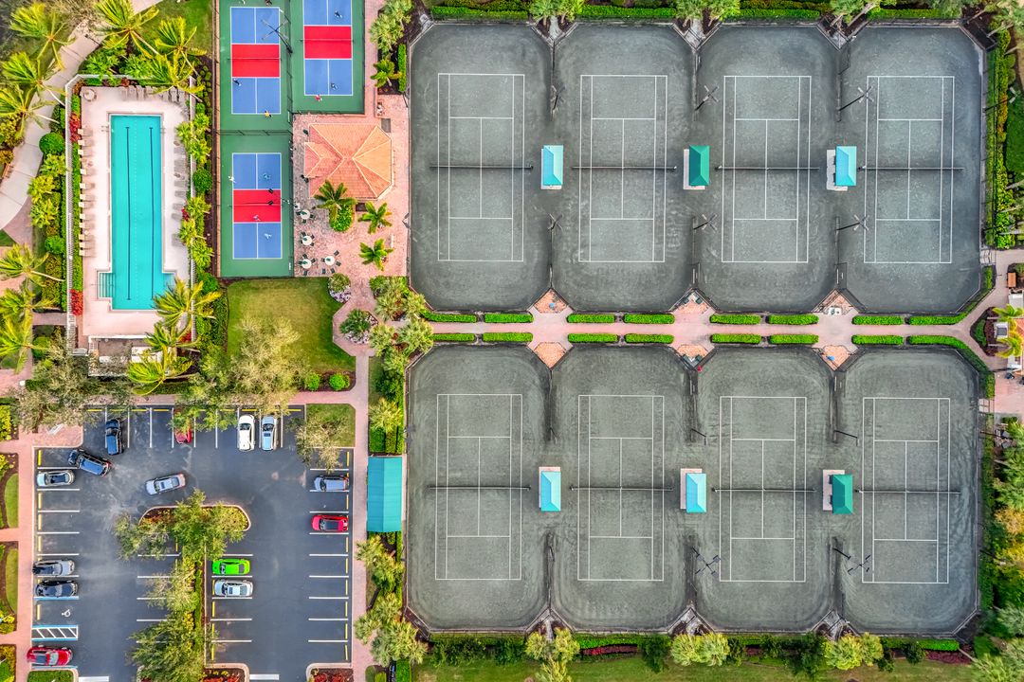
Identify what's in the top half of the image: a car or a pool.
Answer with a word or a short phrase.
pool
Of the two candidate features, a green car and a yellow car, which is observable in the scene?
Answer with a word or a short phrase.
green car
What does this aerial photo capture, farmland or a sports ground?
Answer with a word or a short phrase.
sports ground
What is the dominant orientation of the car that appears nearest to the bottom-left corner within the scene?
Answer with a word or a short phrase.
from left to right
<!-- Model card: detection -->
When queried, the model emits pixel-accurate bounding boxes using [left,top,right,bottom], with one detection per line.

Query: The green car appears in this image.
[214,558,251,577]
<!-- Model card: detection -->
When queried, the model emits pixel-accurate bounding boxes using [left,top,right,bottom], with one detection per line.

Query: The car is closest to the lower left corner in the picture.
[27,647,72,668]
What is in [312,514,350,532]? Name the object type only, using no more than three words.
car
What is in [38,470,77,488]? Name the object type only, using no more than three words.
car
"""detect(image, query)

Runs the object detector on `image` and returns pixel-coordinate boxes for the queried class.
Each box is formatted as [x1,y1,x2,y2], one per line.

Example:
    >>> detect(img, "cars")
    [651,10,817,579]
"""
[214,558,251,577]
[314,475,349,492]
[38,470,77,488]
[103,419,125,456]
[147,473,187,495]
[33,558,75,577]
[237,414,256,451]
[71,449,112,476]
[37,579,78,598]
[312,514,350,532]
[215,579,254,598]
[27,647,72,668]
[259,414,278,451]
